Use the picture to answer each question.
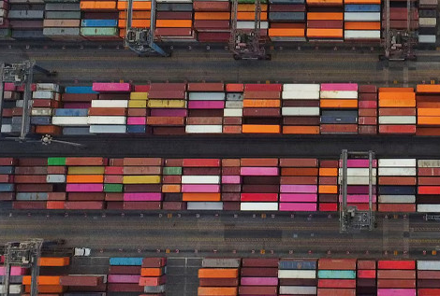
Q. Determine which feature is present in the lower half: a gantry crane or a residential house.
gantry crane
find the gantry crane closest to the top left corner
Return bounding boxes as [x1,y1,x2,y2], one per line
[0,61,63,143]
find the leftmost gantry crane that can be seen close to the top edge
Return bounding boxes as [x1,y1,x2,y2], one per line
[123,0,176,60]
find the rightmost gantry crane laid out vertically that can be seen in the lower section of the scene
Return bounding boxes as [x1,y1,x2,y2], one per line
[340,148,380,232]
